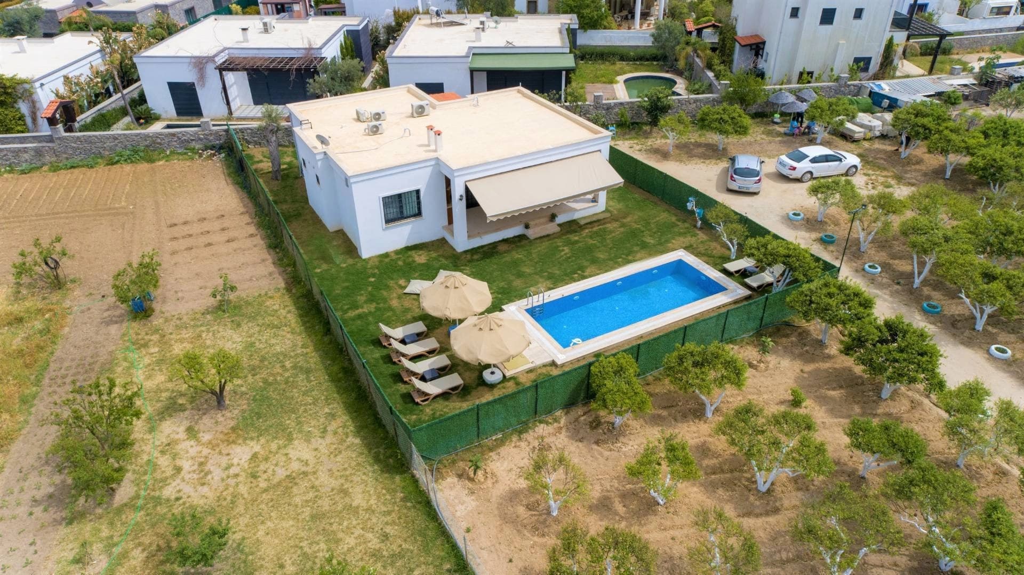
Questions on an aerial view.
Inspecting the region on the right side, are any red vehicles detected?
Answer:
No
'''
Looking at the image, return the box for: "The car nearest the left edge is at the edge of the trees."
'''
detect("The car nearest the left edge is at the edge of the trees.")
[725,150,767,191]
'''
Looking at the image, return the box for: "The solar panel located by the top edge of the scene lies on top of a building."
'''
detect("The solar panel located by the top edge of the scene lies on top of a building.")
[439,11,470,28]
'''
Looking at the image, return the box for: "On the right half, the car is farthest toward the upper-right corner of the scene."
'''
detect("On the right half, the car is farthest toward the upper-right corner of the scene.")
[774,142,864,182]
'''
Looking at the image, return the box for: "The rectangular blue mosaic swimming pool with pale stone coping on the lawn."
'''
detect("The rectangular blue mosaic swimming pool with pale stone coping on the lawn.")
[503,246,750,364]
